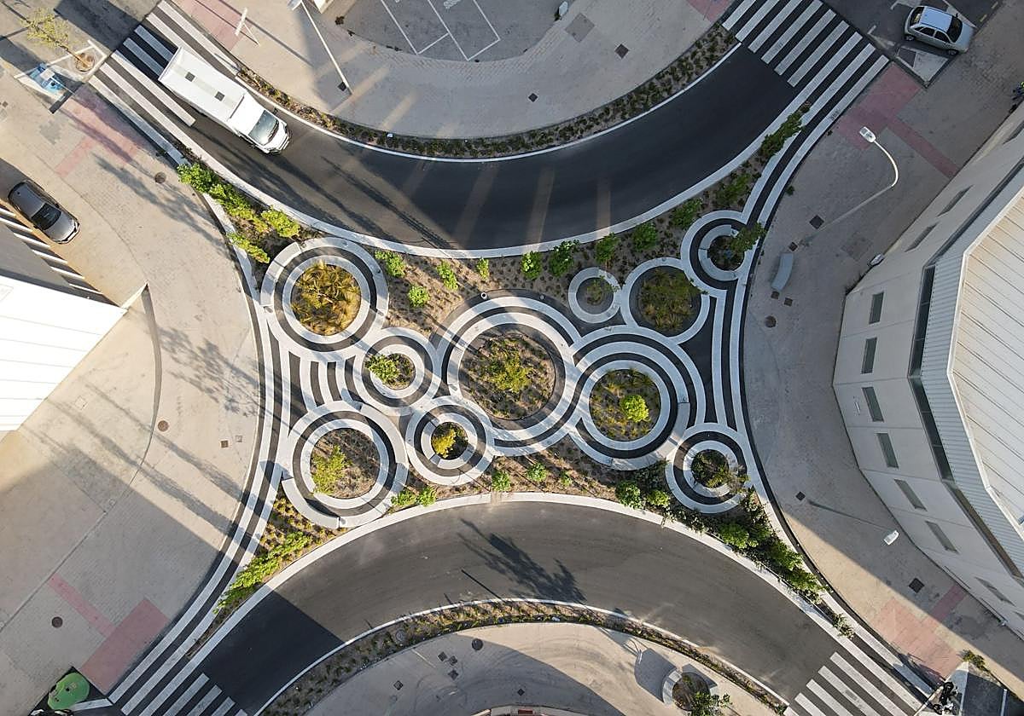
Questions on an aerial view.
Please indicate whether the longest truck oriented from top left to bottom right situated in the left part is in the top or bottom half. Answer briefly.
top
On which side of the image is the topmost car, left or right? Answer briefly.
right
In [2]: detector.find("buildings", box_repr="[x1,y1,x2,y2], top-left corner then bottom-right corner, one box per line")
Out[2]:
[833,106,1024,638]
[0,275,128,431]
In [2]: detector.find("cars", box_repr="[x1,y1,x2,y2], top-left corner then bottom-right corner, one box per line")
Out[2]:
[6,177,81,242]
[901,0,978,54]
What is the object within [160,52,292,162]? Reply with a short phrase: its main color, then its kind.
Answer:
white truck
